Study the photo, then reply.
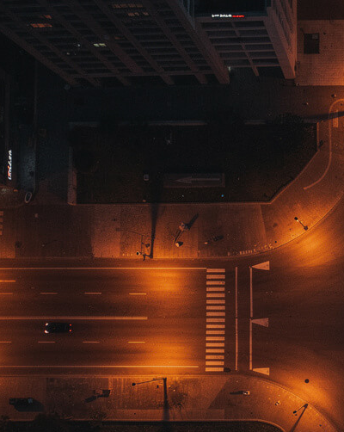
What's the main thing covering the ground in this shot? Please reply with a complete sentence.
Most of the picture is covered by paved ground.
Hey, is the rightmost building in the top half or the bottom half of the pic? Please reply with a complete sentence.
It is in the top half that the rightmost building appears.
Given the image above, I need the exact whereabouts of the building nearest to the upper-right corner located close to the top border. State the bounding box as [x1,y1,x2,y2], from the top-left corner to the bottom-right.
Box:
[184,0,296,77]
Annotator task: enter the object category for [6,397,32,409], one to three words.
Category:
vehicle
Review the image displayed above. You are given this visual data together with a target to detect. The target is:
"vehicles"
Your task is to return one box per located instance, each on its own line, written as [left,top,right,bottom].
[6,397,32,409]
[42,321,70,335]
